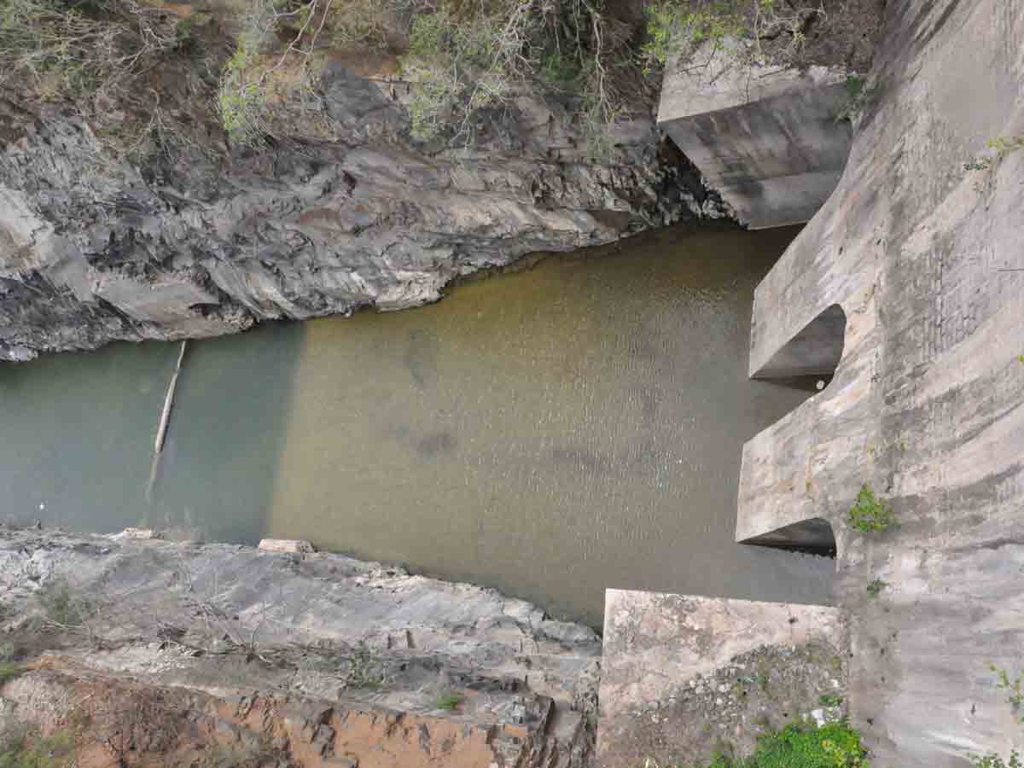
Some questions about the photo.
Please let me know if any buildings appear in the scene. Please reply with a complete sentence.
No, the frame has no building in it.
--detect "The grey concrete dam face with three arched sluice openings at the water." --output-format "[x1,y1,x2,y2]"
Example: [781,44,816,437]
[737,0,1024,768]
